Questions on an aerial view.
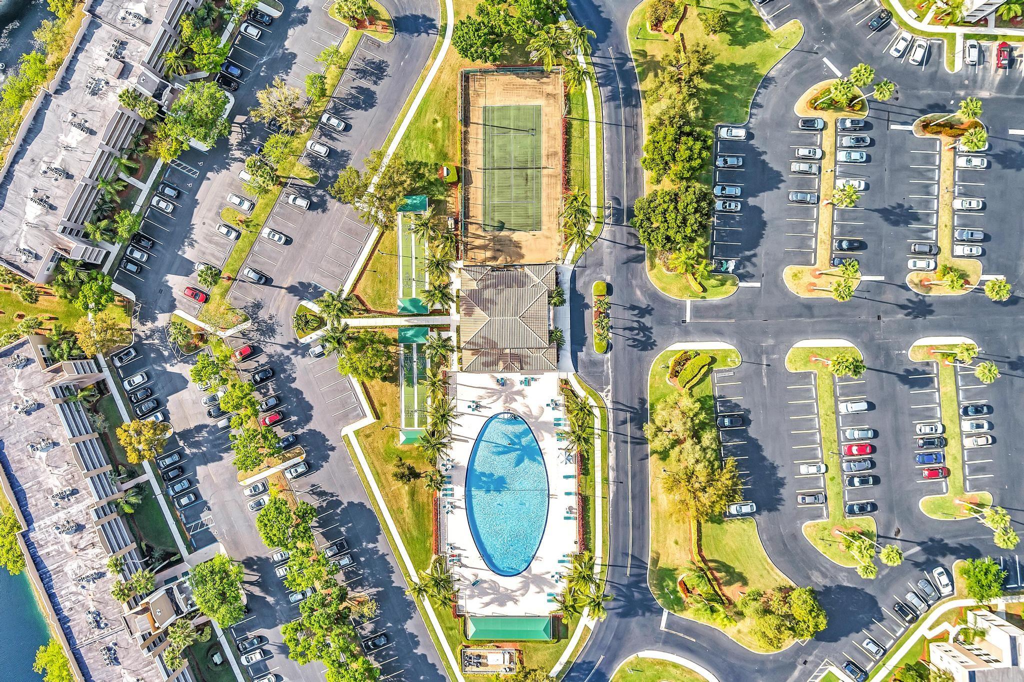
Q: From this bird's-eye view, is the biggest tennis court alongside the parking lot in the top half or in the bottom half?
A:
top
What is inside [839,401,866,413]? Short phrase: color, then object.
white vehicle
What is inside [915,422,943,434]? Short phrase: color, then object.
white vehicle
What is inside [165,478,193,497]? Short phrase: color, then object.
blue car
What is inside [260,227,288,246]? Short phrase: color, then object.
white car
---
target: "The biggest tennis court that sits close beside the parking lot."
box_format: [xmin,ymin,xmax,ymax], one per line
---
[463,70,563,264]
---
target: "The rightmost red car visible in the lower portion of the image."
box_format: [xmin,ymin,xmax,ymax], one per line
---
[921,467,949,479]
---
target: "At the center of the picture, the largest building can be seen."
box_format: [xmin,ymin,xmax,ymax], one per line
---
[460,265,557,375]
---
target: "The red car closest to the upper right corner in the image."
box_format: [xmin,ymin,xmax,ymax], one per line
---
[996,42,1011,69]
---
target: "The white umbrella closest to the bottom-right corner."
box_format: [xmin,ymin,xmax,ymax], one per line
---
[558,450,573,465]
